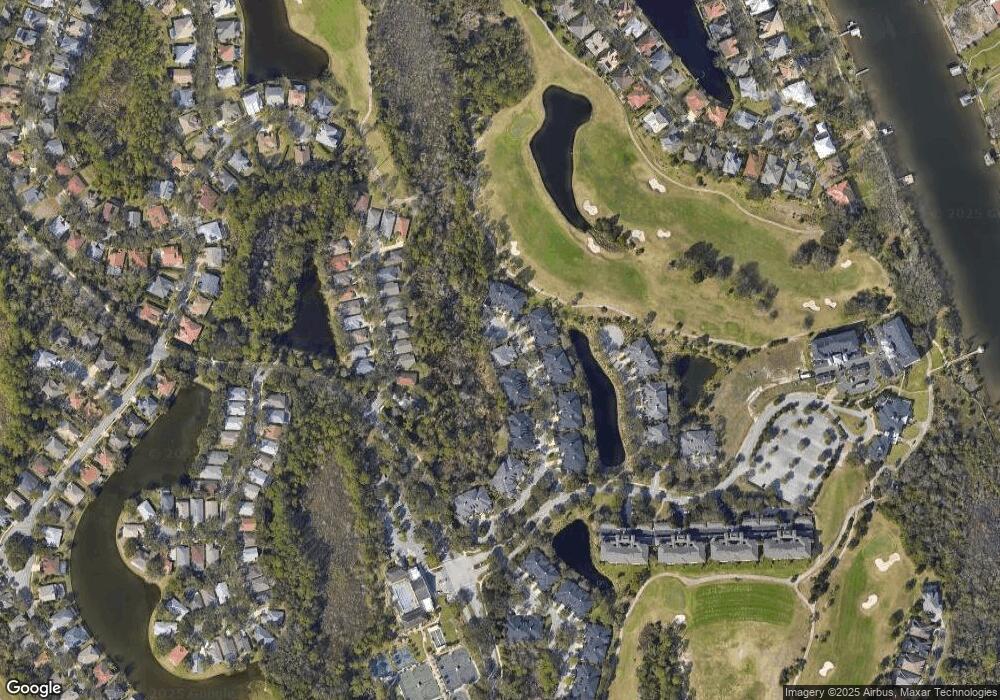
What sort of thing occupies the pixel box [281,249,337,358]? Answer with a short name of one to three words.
pond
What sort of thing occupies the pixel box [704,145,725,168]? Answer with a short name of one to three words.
house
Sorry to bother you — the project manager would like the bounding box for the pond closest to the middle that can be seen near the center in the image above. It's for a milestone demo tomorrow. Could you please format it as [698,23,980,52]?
[570,330,624,467]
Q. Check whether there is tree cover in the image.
Yes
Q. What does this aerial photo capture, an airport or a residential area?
residential area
